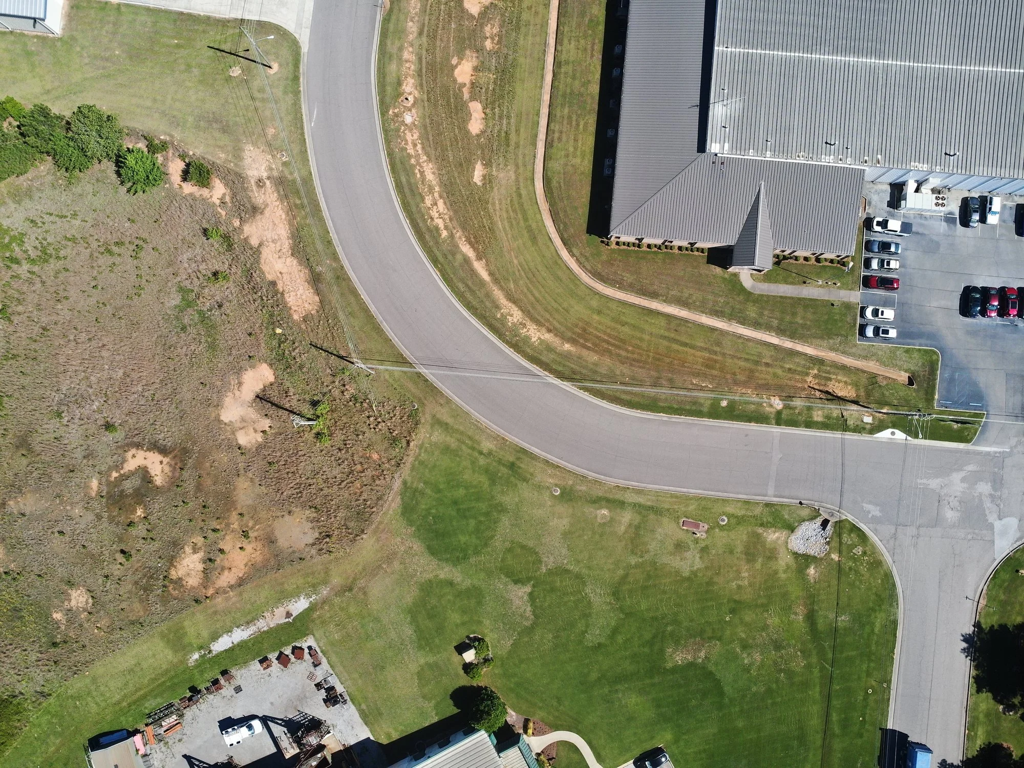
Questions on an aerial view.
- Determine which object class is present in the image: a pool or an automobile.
automobile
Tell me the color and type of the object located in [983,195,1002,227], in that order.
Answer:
white car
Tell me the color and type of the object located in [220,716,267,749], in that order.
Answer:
white truck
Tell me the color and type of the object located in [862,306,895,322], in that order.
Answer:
white car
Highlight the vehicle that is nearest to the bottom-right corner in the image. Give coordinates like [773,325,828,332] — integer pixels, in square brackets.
[901,736,931,768]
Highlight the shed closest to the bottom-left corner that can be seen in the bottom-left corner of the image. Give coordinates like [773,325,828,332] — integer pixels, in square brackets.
[90,729,156,768]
